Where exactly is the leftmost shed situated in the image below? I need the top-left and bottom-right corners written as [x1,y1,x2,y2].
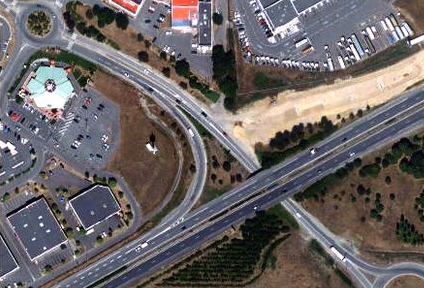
[0,235,19,279]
